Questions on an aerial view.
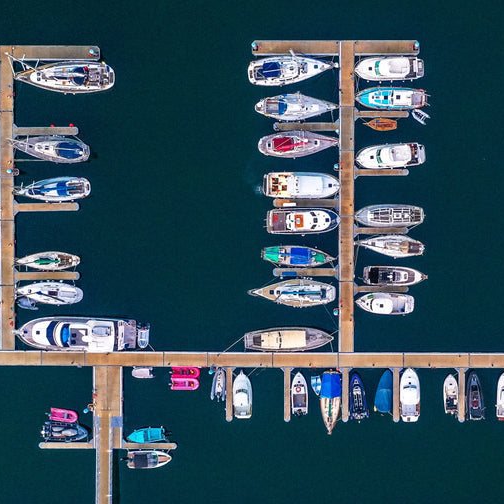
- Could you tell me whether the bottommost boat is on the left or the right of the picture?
left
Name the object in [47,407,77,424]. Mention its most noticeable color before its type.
pink boat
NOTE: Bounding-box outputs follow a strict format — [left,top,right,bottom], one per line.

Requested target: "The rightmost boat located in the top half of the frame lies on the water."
[413,108,431,124]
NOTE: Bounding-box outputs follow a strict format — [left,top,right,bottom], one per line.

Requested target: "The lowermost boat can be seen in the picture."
[118,449,172,469]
